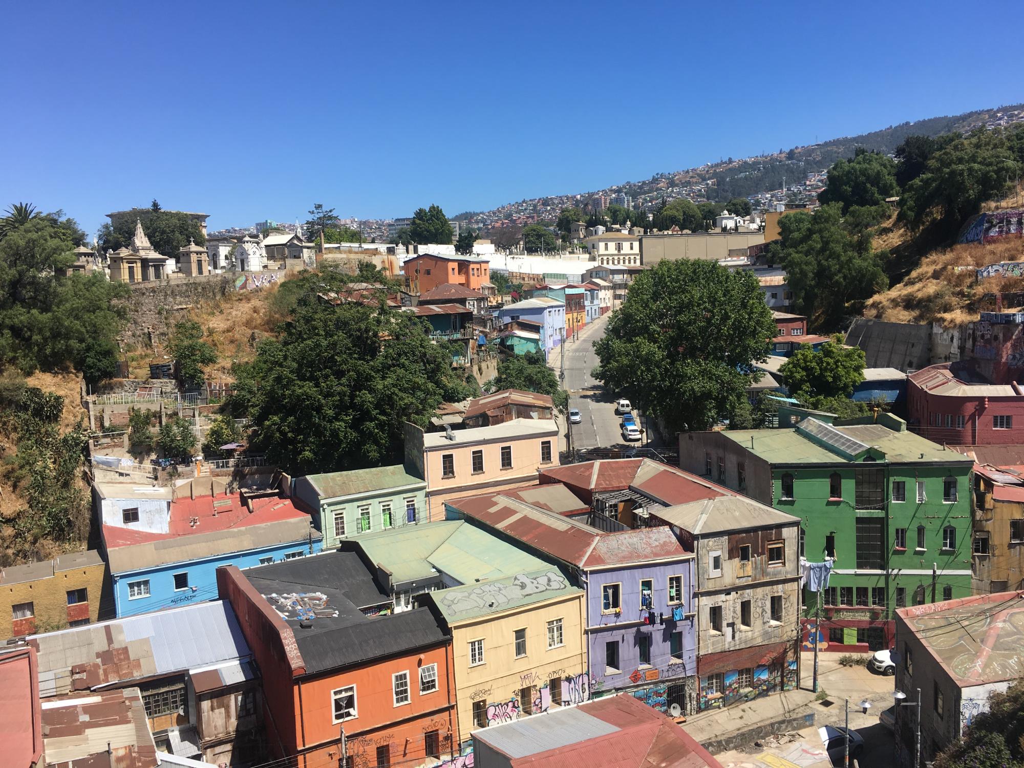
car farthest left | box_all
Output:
[569,407,582,424]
